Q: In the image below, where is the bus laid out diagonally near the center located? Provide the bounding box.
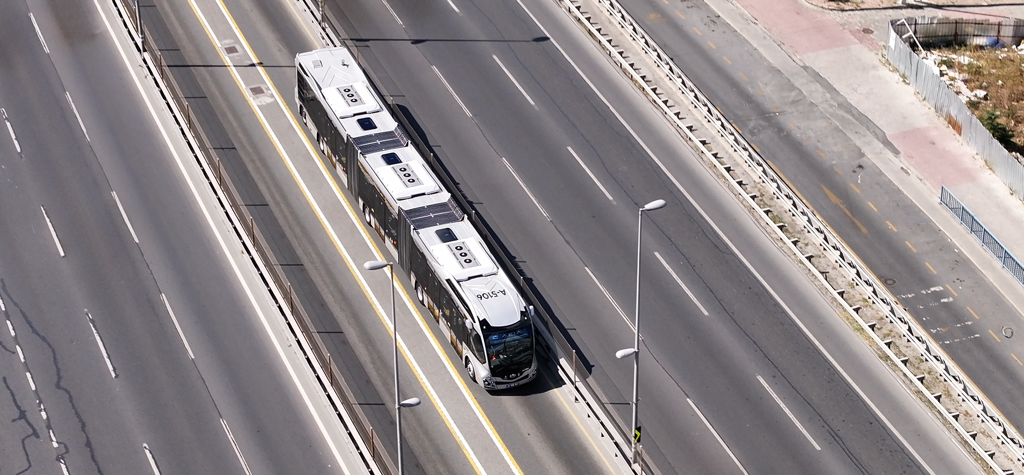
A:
[294,46,539,390]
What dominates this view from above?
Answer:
paved ground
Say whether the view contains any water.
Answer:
No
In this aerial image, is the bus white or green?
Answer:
white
